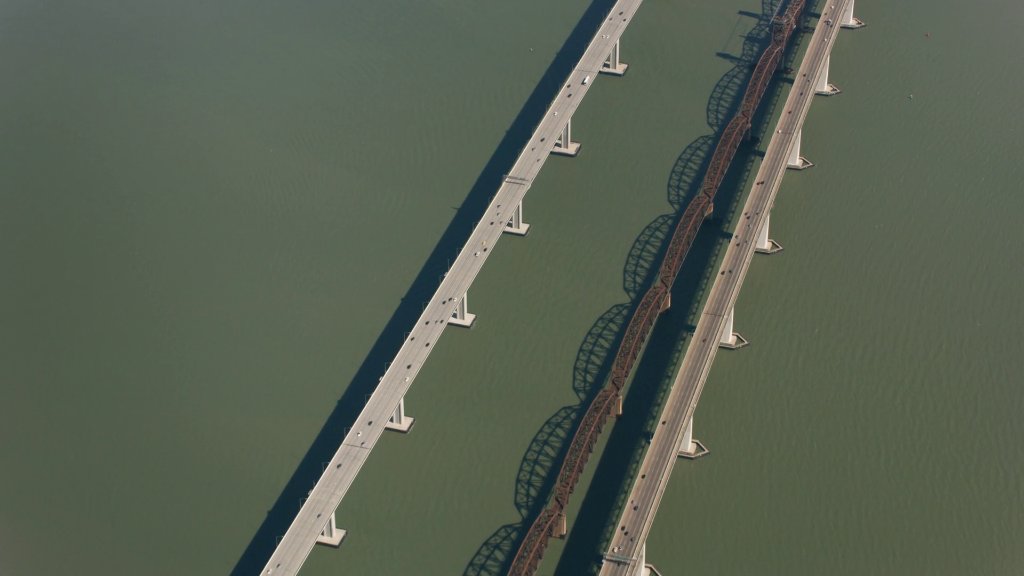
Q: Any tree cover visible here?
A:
No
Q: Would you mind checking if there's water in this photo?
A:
Yes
